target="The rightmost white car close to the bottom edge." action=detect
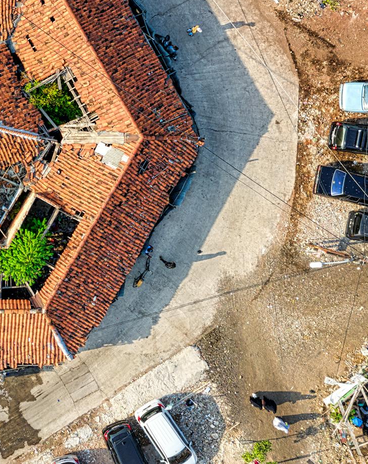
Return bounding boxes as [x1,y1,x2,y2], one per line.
[133,387,193,464]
